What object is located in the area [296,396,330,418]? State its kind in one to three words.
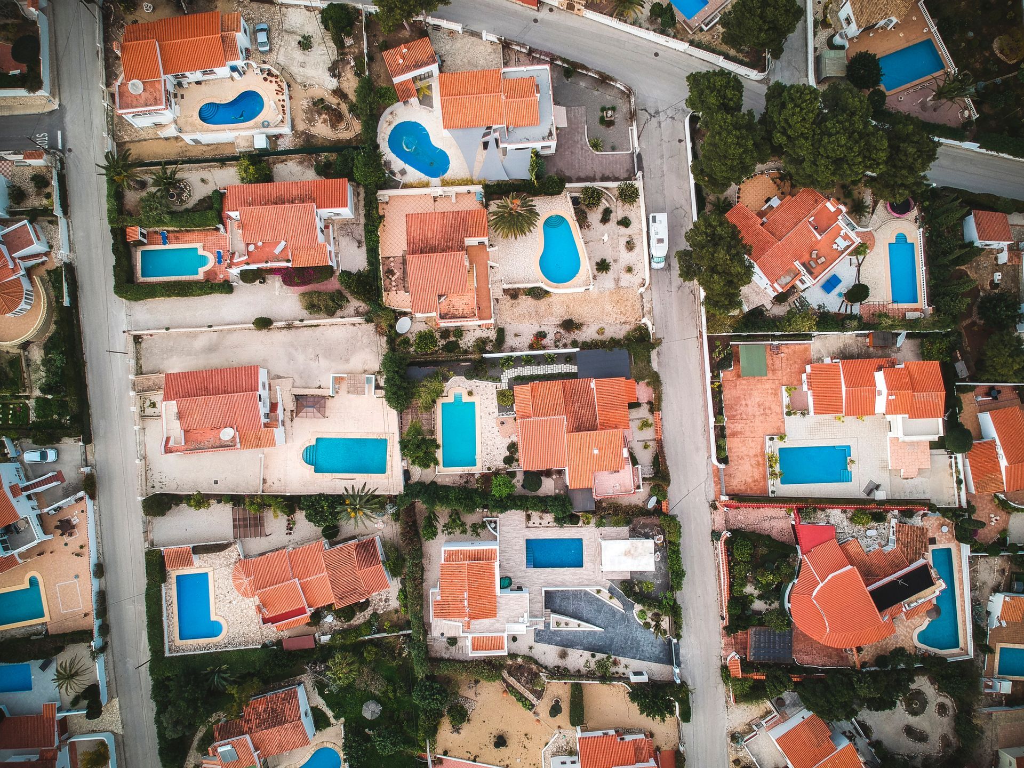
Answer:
gazebo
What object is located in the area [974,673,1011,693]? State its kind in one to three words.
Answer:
shed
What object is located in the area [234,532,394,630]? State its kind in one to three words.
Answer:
house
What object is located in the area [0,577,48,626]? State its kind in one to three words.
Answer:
swimming pool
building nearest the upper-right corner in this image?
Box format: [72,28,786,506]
[828,0,913,51]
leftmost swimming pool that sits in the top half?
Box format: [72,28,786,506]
[136,243,213,281]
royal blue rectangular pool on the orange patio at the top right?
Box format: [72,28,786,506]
[876,34,951,96]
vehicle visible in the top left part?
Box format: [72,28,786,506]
[253,22,272,55]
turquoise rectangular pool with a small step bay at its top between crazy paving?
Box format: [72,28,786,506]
[439,388,481,471]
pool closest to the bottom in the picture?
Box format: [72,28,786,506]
[291,741,348,768]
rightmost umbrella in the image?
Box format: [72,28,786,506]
[924,603,940,618]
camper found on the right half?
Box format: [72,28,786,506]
[648,211,670,270]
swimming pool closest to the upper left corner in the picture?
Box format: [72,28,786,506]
[193,84,269,130]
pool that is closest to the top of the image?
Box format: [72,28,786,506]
[668,0,713,23]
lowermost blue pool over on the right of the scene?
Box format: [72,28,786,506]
[995,643,1024,681]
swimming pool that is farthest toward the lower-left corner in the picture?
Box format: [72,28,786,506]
[0,664,30,693]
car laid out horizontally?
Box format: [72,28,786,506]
[23,448,60,465]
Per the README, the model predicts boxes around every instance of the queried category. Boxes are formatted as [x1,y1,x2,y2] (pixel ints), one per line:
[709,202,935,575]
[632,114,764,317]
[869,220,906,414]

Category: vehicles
[648,211,670,270]
[23,448,60,465]
[253,22,272,55]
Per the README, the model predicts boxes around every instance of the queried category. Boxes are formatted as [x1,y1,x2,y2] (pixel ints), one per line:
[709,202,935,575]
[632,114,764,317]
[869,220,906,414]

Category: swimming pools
[439,388,481,471]
[291,741,348,768]
[0,664,30,693]
[913,544,966,655]
[298,435,390,477]
[535,209,586,288]
[668,0,713,23]
[876,34,951,96]
[524,537,586,571]
[777,443,855,487]
[386,118,452,180]
[884,227,923,307]
[0,577,48,626]
[995,643,1024,681]
[136,243,213,281]
[172,569,227,645]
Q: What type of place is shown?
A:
residential area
